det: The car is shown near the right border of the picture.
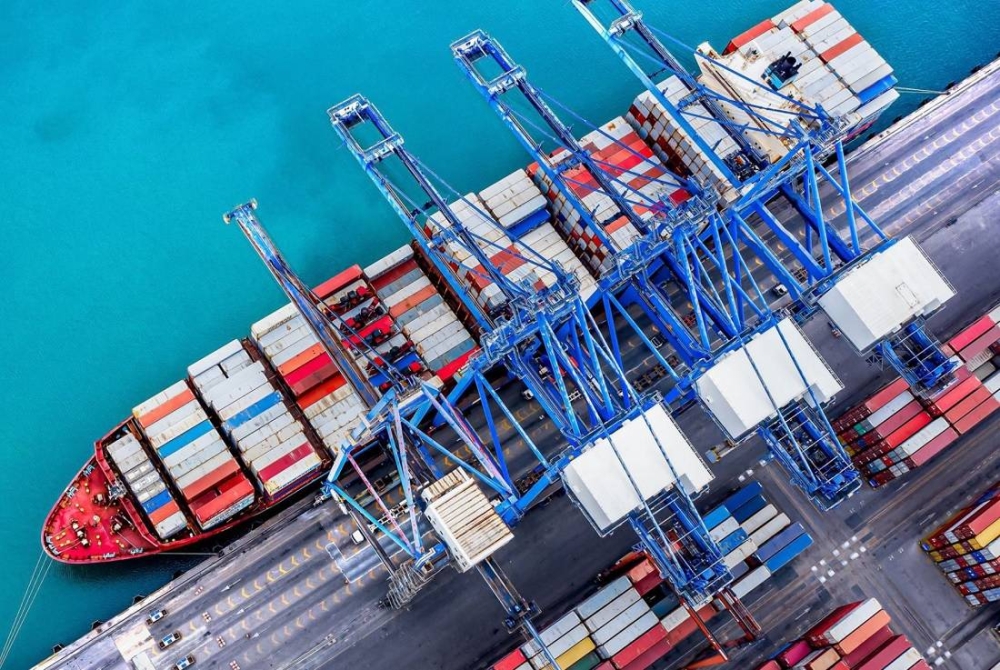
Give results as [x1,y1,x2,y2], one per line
[944,211,962,227]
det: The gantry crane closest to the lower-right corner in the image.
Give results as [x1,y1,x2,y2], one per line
[583,527,766,670]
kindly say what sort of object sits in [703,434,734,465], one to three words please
truck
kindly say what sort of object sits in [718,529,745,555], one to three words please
shipping container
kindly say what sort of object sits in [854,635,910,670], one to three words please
shipping container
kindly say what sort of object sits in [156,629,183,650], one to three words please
car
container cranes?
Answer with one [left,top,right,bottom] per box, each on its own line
[226,197,564,670]
[327,95,732,608]
[450,31,854,515]
[583,527,766,670]
[569,0,960,403]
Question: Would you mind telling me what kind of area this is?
port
